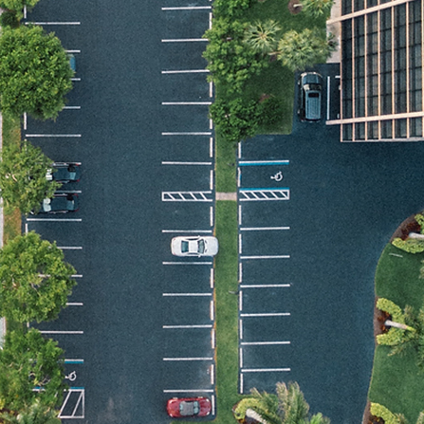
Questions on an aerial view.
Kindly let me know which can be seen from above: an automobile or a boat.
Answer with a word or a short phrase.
automobile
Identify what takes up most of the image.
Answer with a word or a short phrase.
paved ground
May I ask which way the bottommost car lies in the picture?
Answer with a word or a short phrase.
from side to side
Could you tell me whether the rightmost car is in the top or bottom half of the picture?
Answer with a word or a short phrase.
top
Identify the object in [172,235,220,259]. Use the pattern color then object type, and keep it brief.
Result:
white car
